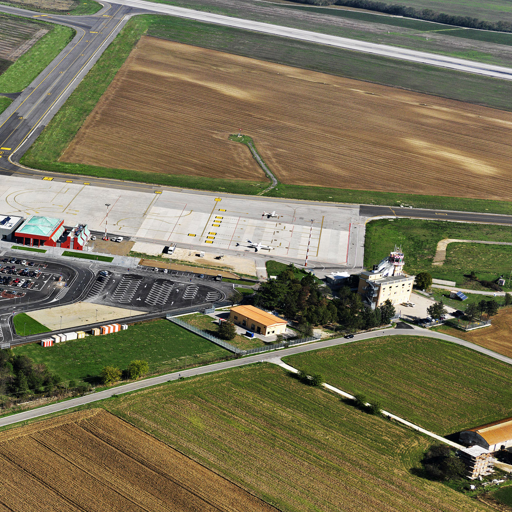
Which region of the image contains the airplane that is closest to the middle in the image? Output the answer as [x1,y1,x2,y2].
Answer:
[248,235,272,251]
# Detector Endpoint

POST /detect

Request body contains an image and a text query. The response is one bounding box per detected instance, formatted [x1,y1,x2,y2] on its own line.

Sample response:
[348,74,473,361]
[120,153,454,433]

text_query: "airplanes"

[248,235,272,251]
[262,210,280,217]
